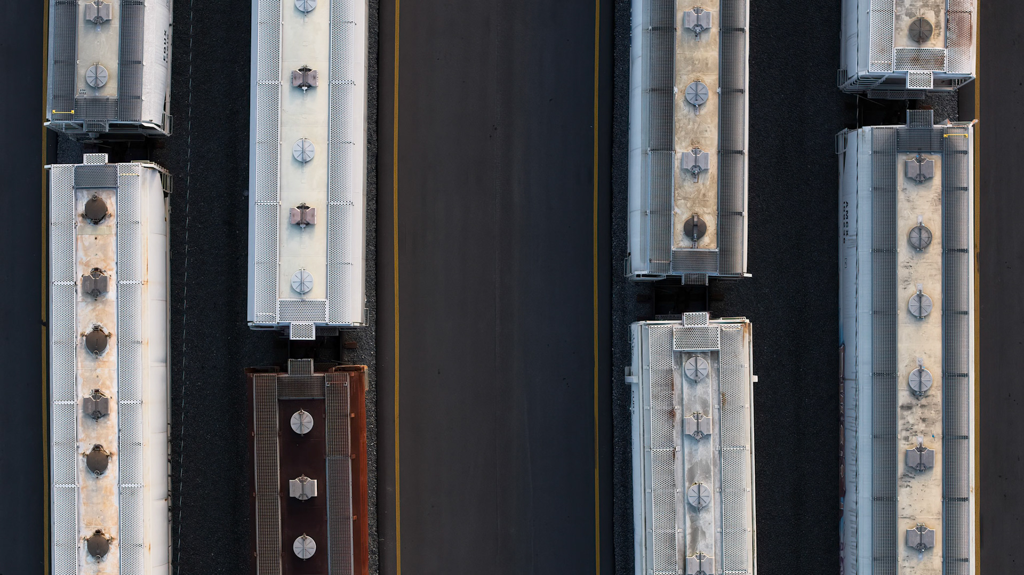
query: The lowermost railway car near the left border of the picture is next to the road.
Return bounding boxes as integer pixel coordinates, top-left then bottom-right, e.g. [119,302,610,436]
[42,146,176,575]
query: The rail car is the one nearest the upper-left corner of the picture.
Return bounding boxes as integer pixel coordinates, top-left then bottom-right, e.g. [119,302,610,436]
[42,0,176,156]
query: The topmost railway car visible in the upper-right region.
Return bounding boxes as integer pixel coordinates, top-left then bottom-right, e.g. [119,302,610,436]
[836,0,976,113]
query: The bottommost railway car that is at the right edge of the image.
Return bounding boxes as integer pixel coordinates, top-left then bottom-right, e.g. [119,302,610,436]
[836,109,977,575]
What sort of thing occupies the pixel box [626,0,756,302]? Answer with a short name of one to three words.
rail car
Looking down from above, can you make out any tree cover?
No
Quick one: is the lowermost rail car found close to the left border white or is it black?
white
